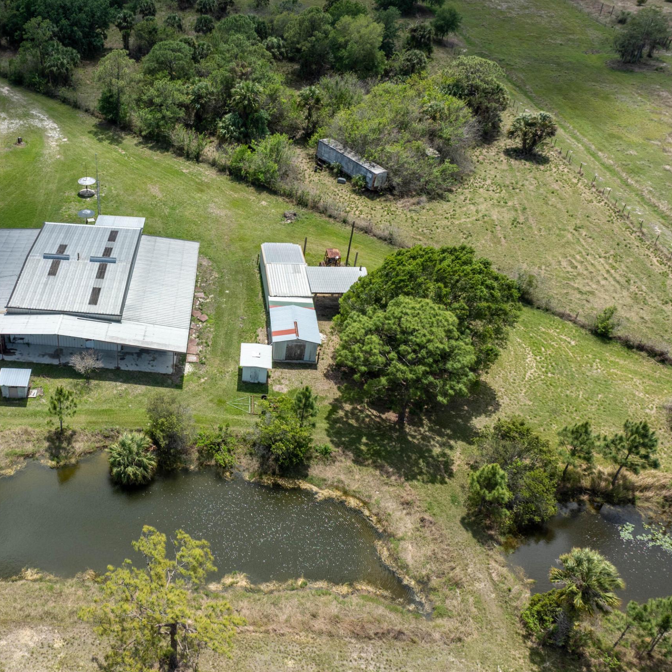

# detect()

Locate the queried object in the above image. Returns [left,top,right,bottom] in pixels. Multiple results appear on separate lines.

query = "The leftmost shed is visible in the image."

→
[0,365,32,399]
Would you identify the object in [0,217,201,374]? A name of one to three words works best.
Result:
barn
